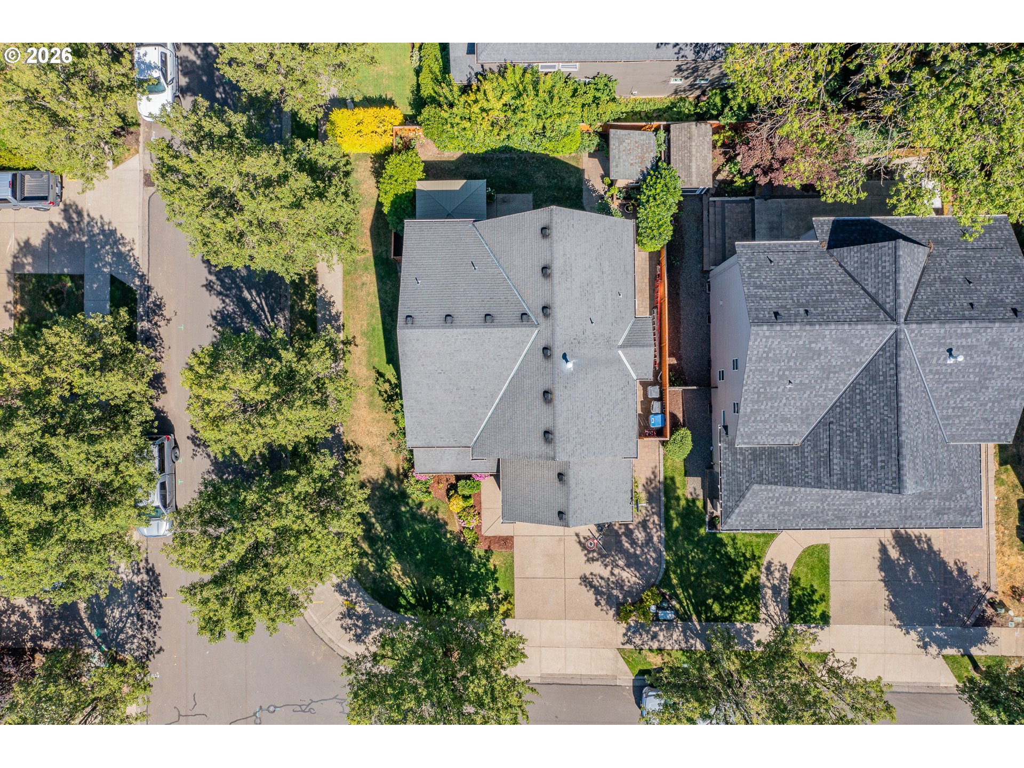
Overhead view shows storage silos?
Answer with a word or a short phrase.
No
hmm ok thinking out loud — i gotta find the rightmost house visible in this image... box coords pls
[705,212,1024,533]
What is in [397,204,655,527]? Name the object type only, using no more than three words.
house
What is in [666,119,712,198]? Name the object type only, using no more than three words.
shed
